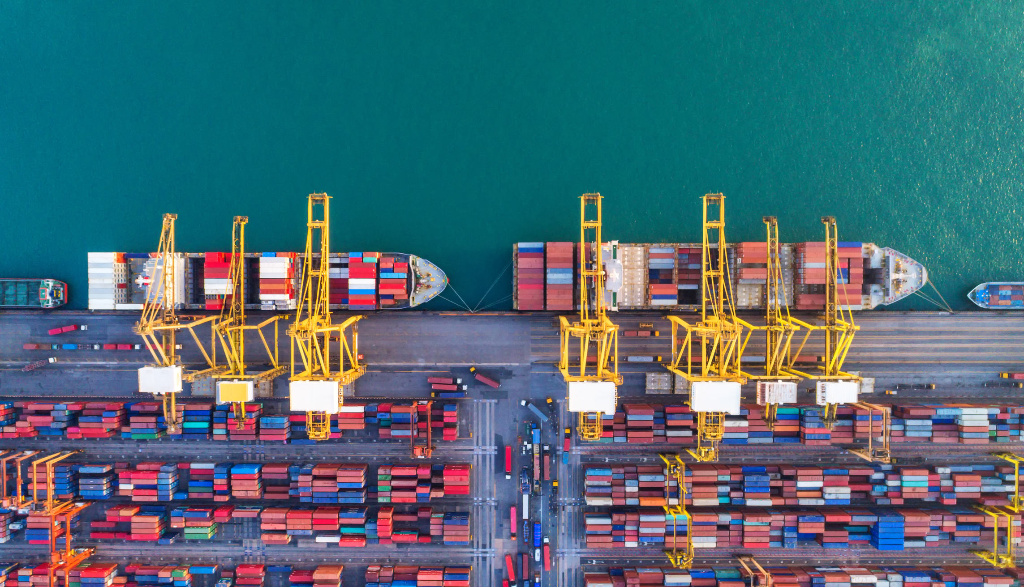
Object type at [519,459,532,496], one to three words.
vehicle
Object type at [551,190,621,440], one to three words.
container crane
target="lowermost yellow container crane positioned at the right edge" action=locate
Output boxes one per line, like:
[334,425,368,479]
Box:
[962,502,1013,569]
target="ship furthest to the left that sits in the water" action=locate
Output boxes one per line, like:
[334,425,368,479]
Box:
[0,279,72,307]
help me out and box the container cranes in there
[285,187,370,440]
[660,503,692,570]
[962,502,1013,569]
[844,398,889,459]
[209,215,295,433]
[32,448,81,514]
[684,413,718,463]
[551,190,621,440]
[134,213,229,435]
[49,552,97,587]
[724,215,803,432]
[0,448,52,513]
[779,215,862,432]
[50,500,98,567]
[984,450,1024,514]
[410,398,438,463]
[654,450,686,514]
[661,188,745,440]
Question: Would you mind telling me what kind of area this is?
port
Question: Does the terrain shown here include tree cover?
No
